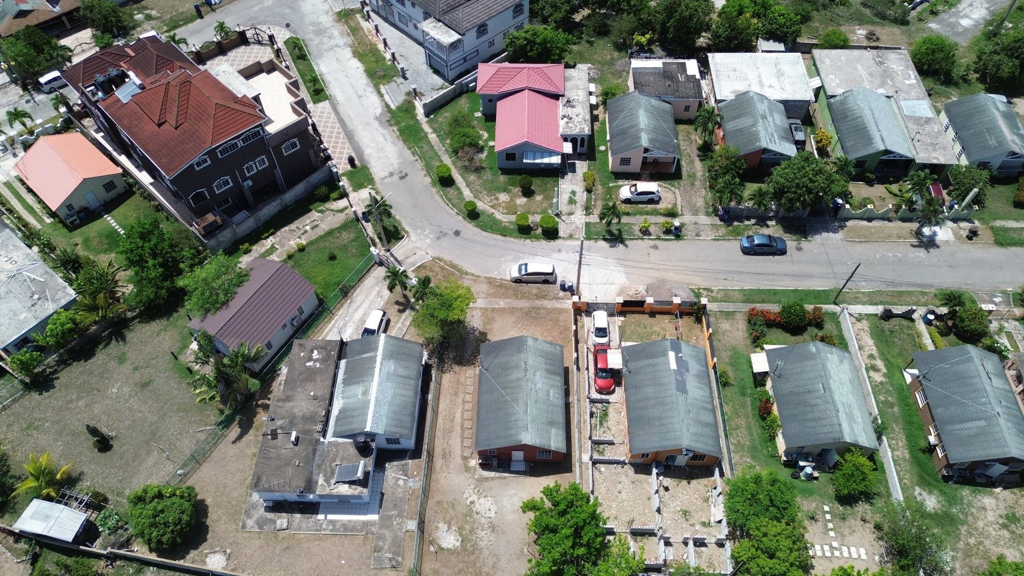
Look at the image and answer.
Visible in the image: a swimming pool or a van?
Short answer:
van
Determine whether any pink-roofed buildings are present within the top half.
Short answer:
Yes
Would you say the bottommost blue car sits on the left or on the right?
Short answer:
right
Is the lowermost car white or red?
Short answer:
red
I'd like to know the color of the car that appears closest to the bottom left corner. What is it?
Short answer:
white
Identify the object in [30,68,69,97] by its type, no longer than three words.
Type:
van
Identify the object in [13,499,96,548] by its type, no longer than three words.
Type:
shed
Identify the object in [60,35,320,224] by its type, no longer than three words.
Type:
house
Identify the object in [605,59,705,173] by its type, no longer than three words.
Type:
house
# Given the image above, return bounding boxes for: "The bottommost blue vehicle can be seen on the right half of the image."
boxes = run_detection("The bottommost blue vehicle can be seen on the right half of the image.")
[741,236,790,258]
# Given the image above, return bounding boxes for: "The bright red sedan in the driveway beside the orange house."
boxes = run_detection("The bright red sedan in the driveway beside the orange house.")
[594,351,618,398]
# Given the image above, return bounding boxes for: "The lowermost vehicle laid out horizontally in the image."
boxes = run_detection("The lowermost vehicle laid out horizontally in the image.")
[509,264,557,286]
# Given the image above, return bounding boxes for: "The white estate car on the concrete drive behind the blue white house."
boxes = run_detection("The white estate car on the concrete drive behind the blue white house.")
[357,304,390,339]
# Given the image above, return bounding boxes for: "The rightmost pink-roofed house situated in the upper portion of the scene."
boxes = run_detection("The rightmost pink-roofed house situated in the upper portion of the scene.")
[477,63,596,169]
